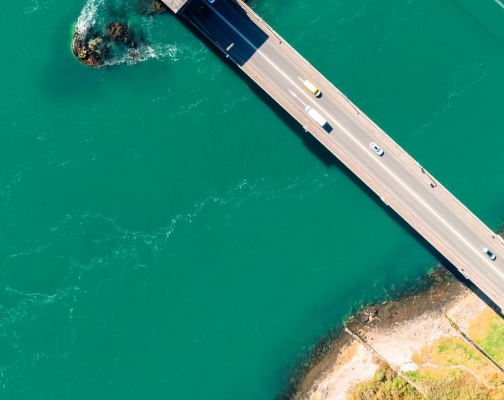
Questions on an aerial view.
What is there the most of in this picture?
water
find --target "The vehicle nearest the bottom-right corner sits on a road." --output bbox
[482,248,496,261]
